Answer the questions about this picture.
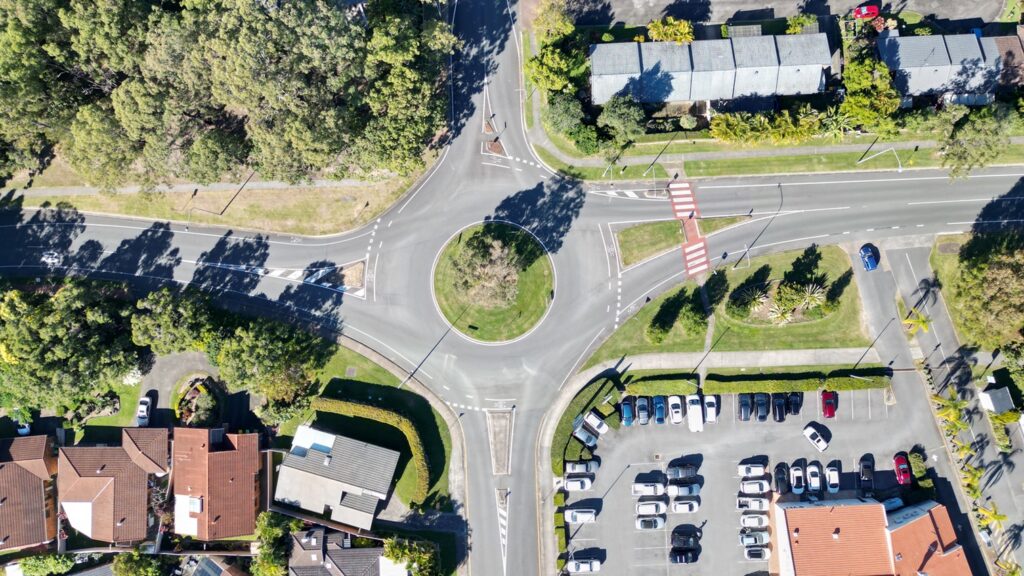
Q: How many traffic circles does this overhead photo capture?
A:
1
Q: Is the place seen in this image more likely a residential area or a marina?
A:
residential area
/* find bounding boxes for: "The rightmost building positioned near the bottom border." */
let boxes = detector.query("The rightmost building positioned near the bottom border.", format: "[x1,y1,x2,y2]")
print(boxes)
[888,497,977,576]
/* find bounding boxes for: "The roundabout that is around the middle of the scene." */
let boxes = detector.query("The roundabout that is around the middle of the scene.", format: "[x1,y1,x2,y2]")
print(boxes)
[432,221,555,345]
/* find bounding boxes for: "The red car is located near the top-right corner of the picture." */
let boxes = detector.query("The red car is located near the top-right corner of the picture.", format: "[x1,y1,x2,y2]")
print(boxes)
[851,4,878,20]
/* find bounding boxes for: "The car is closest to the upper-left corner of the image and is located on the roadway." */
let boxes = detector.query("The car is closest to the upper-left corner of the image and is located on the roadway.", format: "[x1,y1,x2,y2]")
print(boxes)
[37,251,66,265]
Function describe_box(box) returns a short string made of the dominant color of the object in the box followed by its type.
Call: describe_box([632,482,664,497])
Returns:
white vehicle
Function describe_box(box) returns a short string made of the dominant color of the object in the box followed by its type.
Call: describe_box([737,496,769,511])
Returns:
white vehicle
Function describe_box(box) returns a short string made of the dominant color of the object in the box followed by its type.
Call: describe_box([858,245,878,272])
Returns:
blue car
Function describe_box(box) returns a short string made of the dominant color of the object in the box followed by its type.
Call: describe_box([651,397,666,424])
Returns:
blue car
